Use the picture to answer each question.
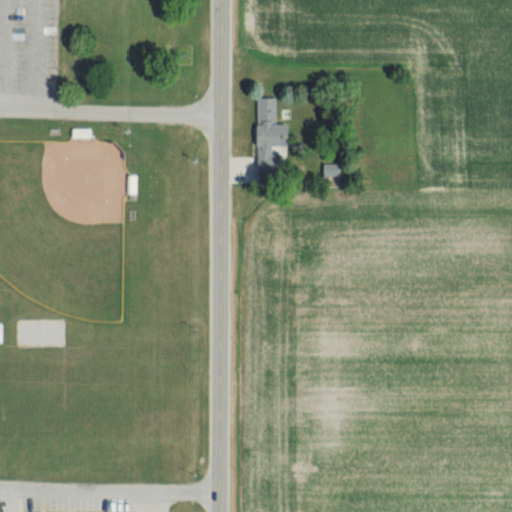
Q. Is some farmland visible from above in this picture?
Yes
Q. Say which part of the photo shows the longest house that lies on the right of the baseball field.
top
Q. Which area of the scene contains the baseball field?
left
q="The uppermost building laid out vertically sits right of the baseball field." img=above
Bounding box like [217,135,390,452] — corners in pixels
[256,98,288,168]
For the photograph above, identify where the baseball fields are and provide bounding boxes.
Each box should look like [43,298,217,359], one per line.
[0,140,124,322]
